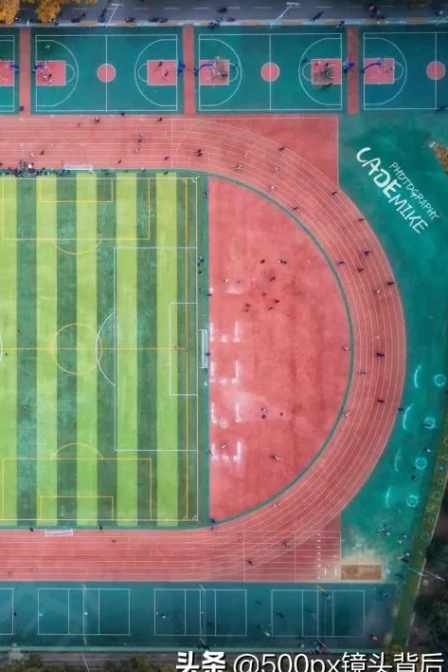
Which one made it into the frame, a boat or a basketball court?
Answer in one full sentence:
This aerial view contains a basketball court.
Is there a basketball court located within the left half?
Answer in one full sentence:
Yes, the scene does show a basketball court within the left half.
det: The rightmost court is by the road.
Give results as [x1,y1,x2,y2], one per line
[358,26,448,114]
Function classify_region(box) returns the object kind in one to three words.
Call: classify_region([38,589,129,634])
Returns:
sports court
